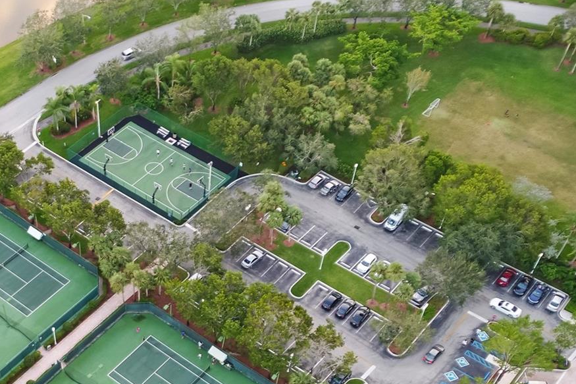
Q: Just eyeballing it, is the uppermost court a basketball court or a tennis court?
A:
basketball court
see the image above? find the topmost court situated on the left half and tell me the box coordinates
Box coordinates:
[71,117,244,225]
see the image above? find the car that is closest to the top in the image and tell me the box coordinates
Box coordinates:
[118,47,136,60]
